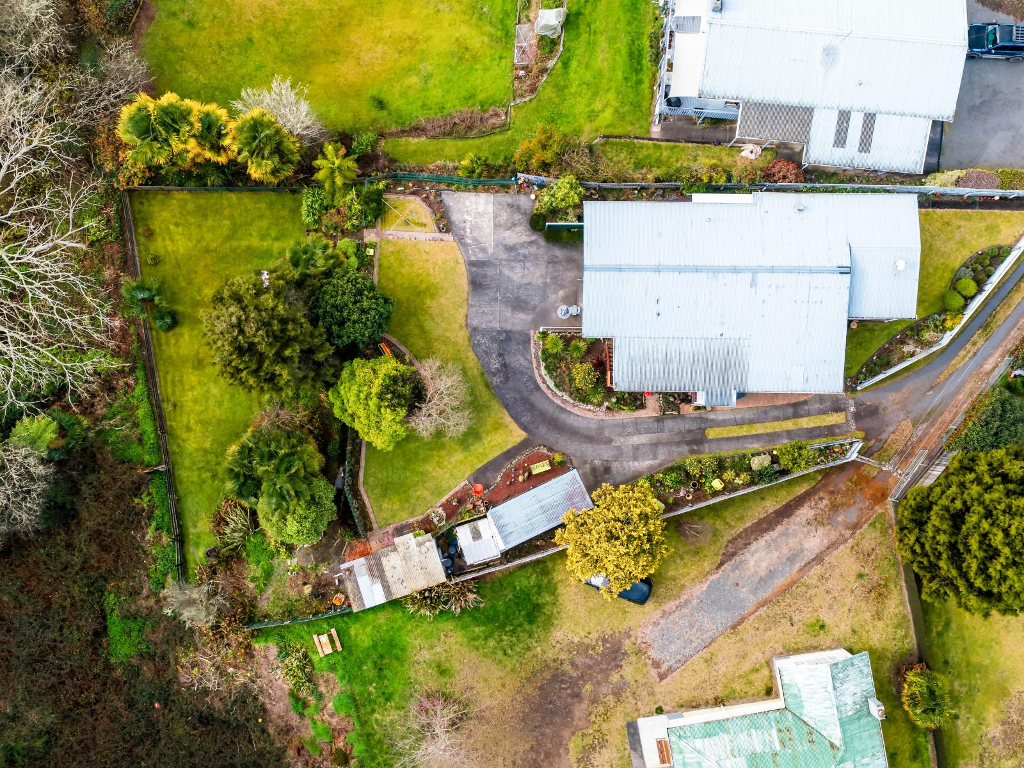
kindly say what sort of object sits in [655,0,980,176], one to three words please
house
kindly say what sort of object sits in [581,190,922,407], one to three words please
house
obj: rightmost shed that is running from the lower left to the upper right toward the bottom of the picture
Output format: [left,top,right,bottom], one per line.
[487,468,592,553]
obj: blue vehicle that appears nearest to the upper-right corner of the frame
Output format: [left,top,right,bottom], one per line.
[967,13,1024,61]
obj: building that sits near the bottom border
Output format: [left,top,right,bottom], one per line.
[636,648,893,768]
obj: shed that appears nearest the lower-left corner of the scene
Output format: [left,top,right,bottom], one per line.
[341,532,446,612]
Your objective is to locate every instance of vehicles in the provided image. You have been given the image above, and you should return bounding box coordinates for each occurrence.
[967,13,1024,61]
[577,569,655,609]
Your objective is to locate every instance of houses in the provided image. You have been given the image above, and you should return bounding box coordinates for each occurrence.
[581,190,922,407]
[636,648,893,768]
[655,0,980,176]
